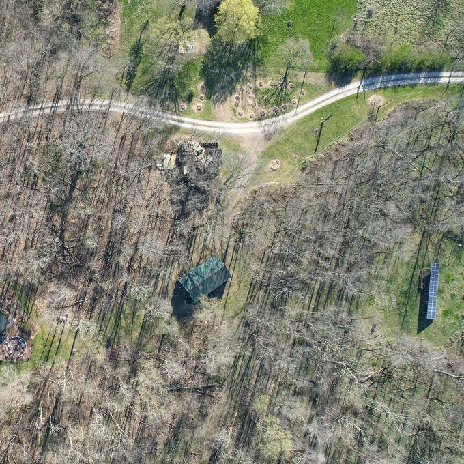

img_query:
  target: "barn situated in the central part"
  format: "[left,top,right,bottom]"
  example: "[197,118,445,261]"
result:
[176,253,230,303]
